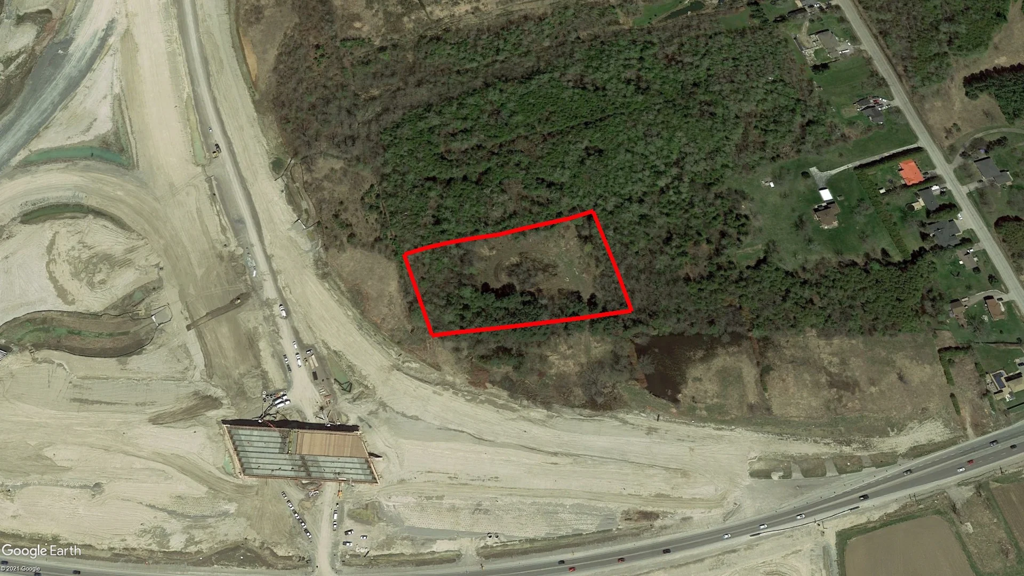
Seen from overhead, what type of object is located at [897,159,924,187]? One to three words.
house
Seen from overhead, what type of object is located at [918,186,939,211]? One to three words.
house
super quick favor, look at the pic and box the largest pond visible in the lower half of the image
[631,331,756,404]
